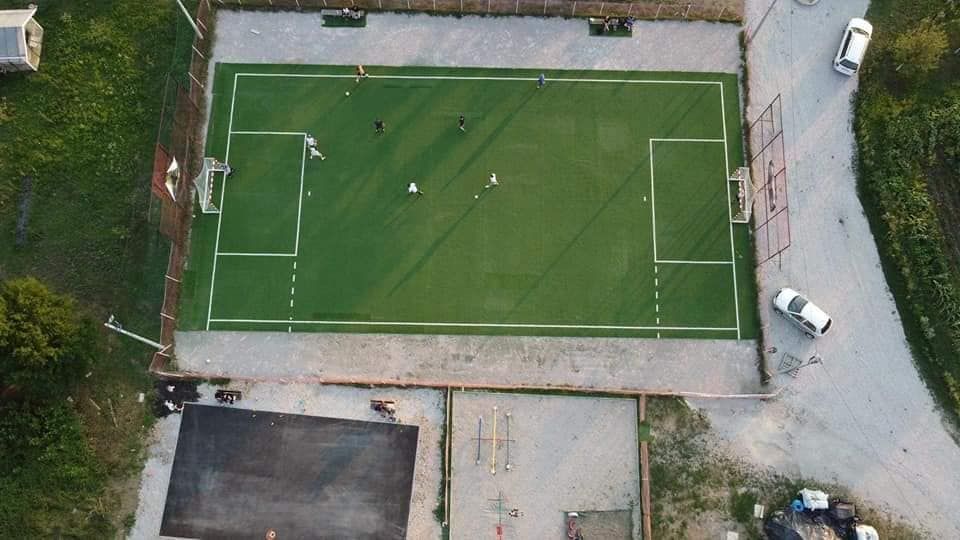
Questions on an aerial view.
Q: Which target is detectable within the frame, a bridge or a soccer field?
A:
soccer field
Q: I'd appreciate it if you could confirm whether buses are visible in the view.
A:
No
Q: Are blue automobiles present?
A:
No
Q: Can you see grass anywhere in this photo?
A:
Yes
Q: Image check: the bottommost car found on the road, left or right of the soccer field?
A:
right of it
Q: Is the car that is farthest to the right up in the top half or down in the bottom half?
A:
top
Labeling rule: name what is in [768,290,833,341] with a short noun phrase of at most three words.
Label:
car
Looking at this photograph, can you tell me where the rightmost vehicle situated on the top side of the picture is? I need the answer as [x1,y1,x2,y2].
[829,20,870,78]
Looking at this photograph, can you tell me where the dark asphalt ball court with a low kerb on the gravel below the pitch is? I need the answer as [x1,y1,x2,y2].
[159,401,419,540]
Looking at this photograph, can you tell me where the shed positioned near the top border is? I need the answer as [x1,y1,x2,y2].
[0,1,45,71]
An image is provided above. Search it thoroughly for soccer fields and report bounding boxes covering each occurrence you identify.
[176,64,758,339]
